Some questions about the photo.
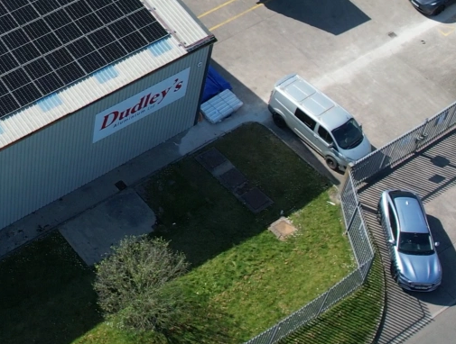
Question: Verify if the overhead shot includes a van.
Yes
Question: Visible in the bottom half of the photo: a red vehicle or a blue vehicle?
blue vehicle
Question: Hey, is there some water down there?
No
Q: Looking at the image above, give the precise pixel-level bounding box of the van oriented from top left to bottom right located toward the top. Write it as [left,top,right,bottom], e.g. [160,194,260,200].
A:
[267,71,375,177]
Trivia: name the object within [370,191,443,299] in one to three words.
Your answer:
car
